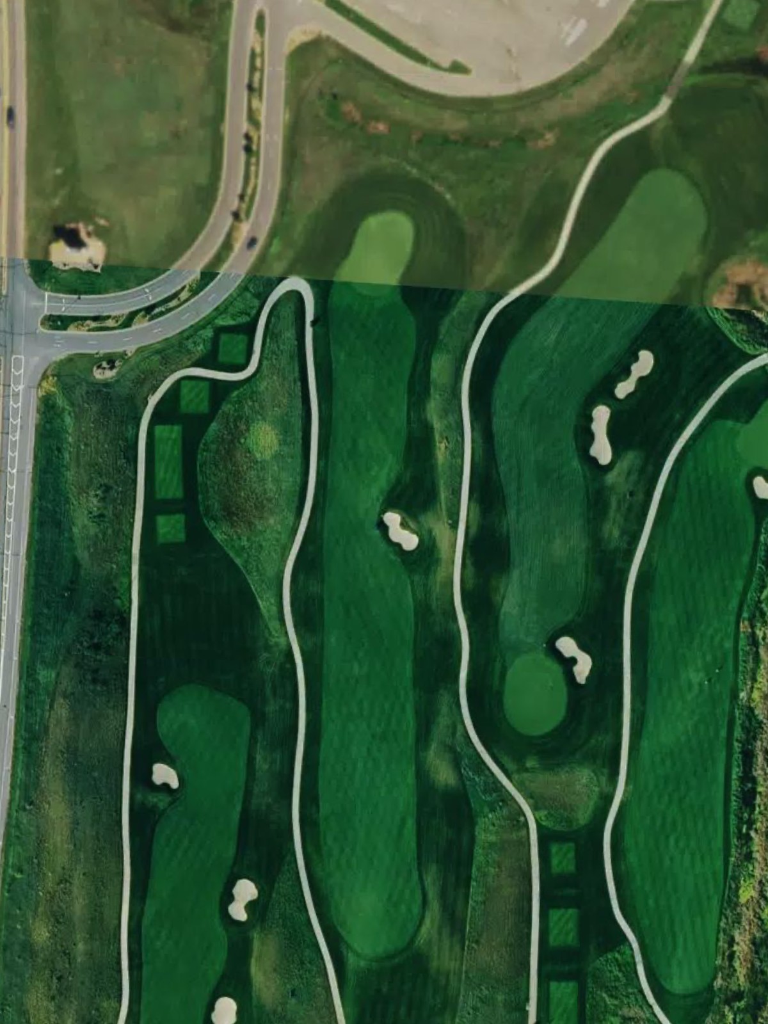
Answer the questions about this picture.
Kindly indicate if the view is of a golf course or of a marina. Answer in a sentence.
This looks like a golf course.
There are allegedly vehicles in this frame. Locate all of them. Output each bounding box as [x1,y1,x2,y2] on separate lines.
[7,108,14,123]
[246,235,257,250]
